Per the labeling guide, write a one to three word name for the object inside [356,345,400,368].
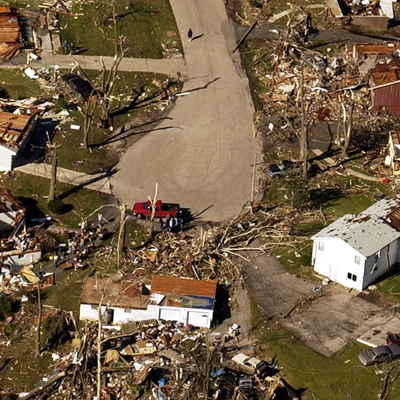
car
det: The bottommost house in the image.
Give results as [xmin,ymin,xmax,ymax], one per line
[78,275,218,328]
